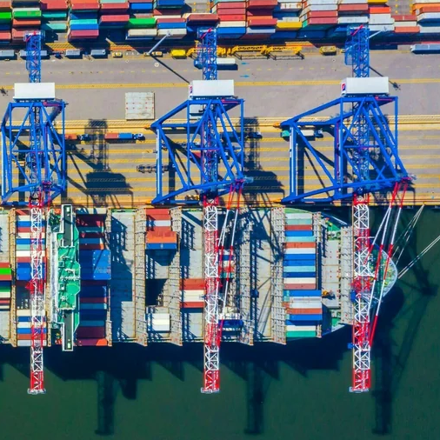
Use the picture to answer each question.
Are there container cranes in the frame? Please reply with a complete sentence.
Yes, the frame does contain a container crane.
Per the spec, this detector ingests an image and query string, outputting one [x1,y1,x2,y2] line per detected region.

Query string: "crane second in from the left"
[136,23,255,396]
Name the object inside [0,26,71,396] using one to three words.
container crane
